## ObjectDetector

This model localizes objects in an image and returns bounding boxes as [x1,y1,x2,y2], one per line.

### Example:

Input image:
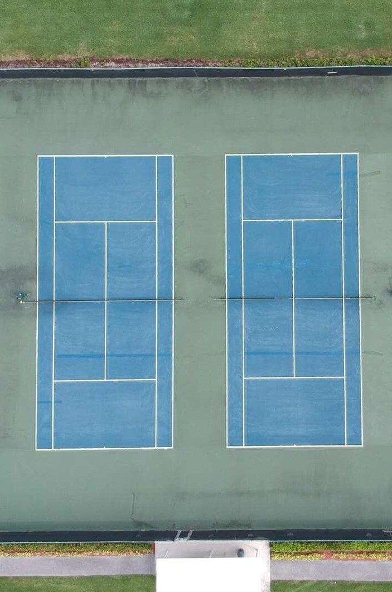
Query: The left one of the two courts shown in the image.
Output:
[36,155,172,450]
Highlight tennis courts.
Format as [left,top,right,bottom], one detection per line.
[36,155,172,450]
[224,152,363,448]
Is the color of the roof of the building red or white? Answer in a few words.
white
